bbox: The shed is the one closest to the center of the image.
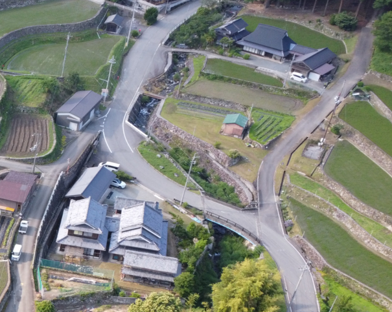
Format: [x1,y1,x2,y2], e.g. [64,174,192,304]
[221,111,247,137]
